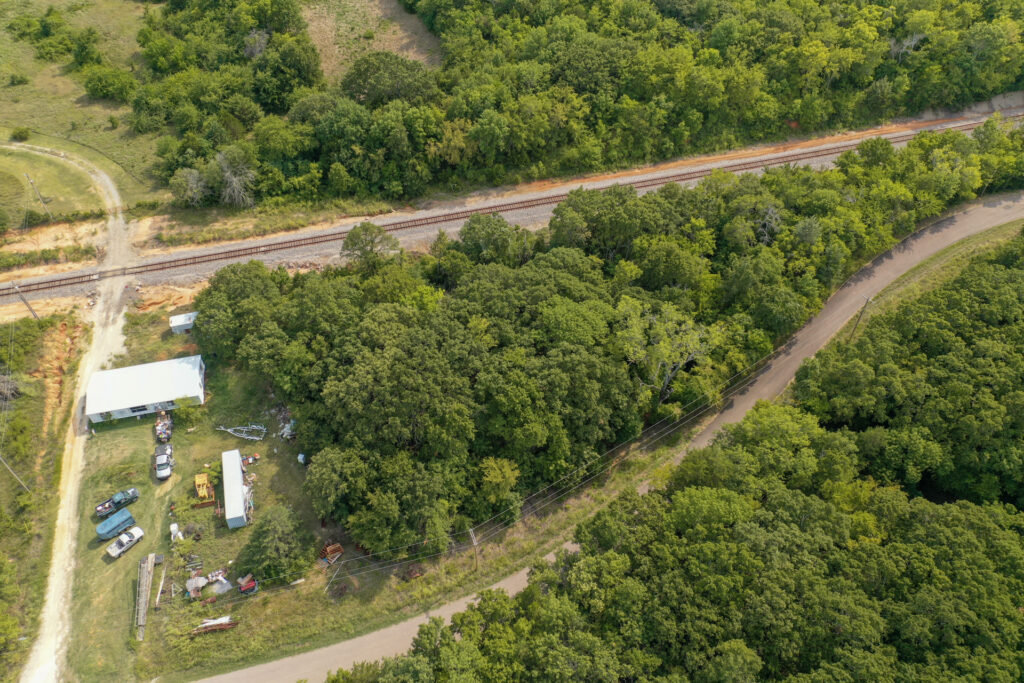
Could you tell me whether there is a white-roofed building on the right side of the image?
No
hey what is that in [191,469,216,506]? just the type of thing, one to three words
work vehicle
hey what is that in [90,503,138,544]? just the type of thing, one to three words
trailer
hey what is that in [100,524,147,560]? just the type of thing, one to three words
truck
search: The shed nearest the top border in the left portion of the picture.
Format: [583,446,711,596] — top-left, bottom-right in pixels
[165,309,197,333]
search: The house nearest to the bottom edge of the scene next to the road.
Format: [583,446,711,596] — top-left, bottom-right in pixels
[84,350,215,423]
